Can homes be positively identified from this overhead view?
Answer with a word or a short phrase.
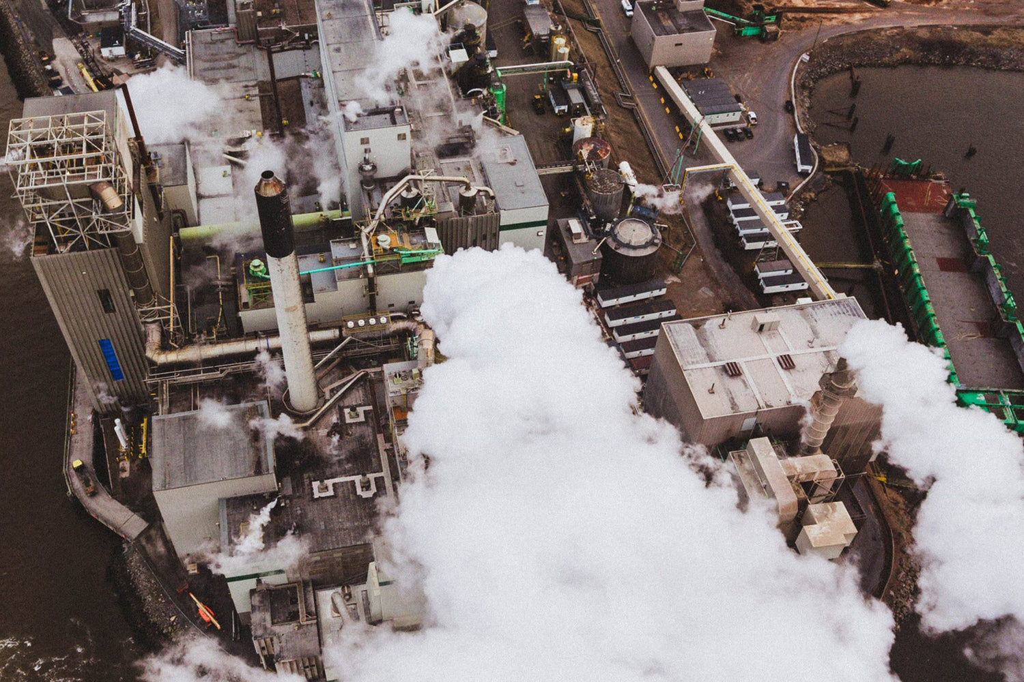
Yes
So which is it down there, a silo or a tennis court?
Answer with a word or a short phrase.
silo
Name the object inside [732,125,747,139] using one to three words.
car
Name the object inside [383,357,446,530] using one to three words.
house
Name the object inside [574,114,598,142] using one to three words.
silo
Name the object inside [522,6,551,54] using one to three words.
shed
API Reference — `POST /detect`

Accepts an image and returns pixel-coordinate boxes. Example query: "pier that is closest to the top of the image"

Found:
[847,168,922,349]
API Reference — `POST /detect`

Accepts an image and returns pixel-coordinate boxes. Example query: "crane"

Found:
[76,61,113,89]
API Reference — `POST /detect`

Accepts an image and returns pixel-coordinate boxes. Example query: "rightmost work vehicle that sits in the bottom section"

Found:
[187,590,225,636]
